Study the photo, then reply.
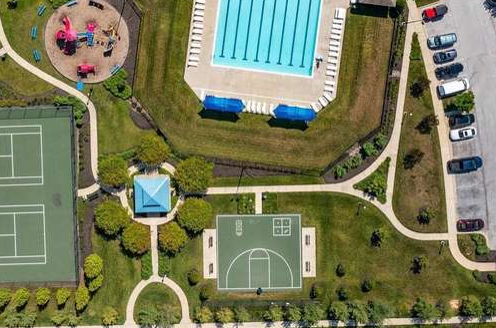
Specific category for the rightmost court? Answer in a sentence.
The rightmost court can be classified as a basketball court.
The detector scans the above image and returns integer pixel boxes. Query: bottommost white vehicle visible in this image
[448,127,476,141]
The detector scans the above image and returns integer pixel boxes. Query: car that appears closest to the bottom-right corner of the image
[455,219,484,232]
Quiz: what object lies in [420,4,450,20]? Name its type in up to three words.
car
